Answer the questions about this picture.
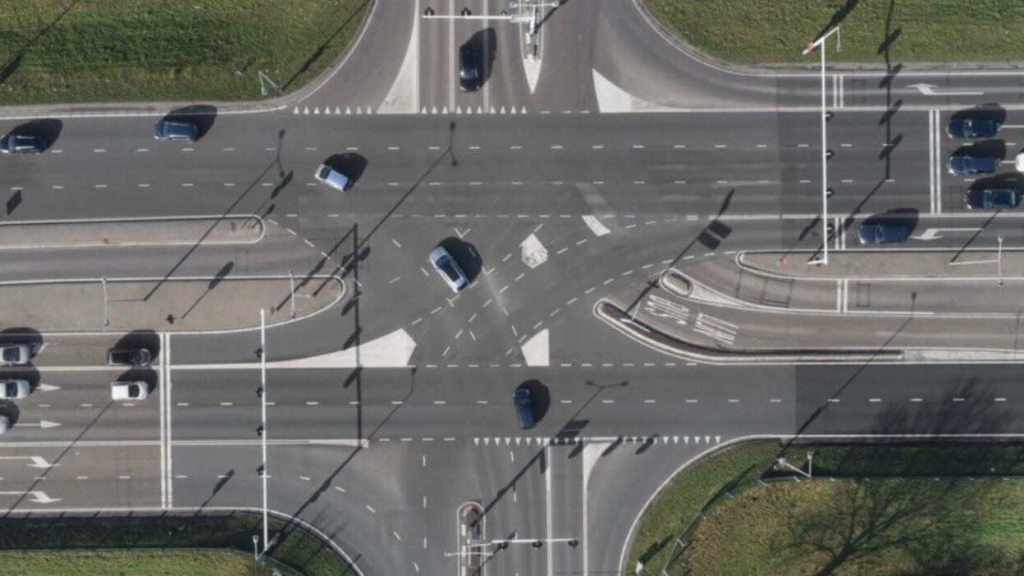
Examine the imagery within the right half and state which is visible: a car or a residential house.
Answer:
car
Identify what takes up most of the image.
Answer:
paved ground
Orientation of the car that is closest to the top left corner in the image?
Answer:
horizontally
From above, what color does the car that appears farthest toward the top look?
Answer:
black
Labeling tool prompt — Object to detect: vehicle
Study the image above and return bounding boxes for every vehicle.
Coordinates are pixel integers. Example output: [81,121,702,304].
[945,116,999,139]
[2,131,48,154]
[0,378,32,401]
[1013,153,1024,173]
[428,246,470,293]
[946,152,999,176]
[512,386,536,429]
[0,343,33,366]
[109,345,153,367]
[856,221,908,245]
[109,380,151,401]
[458,45,481,91]
[314,162,352,192]
[154,119,199,142]
[964,187,1021,211]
